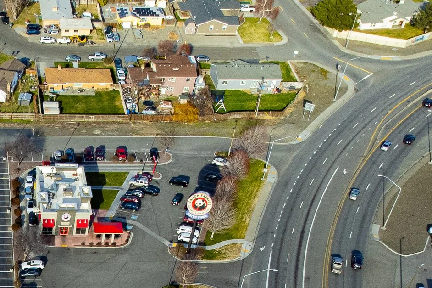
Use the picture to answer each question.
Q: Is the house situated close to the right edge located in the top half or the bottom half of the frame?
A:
top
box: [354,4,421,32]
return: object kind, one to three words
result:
house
